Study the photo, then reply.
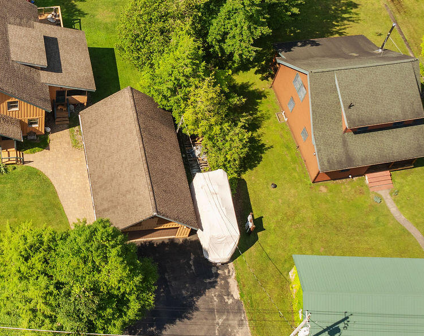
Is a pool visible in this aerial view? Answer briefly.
No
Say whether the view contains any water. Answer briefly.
No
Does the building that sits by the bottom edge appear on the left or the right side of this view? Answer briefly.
right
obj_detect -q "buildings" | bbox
[0,0,96,169]
[269,23,424,188]
[76,87,203,241]
[288,255,424,336]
